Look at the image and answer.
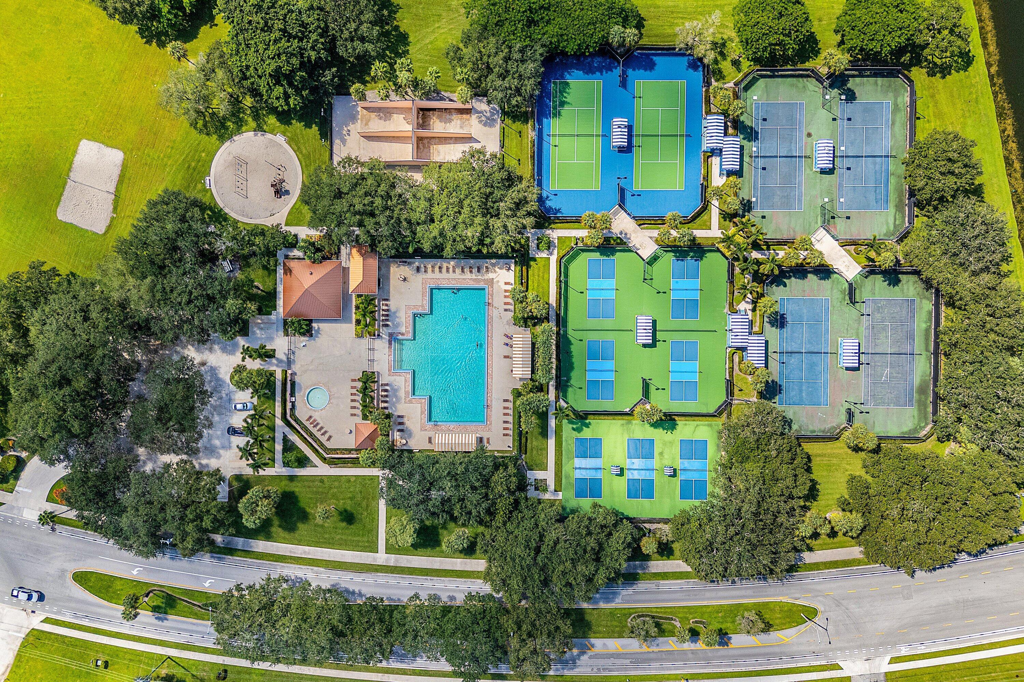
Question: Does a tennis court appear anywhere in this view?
Yes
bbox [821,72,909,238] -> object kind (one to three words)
tennis court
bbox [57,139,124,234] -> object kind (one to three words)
sports court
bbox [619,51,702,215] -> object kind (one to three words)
tennis court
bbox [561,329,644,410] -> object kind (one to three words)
sports court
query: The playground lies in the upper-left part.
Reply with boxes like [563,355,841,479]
[210,131,302,223]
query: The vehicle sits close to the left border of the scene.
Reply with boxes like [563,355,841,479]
[9,588,39,602]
